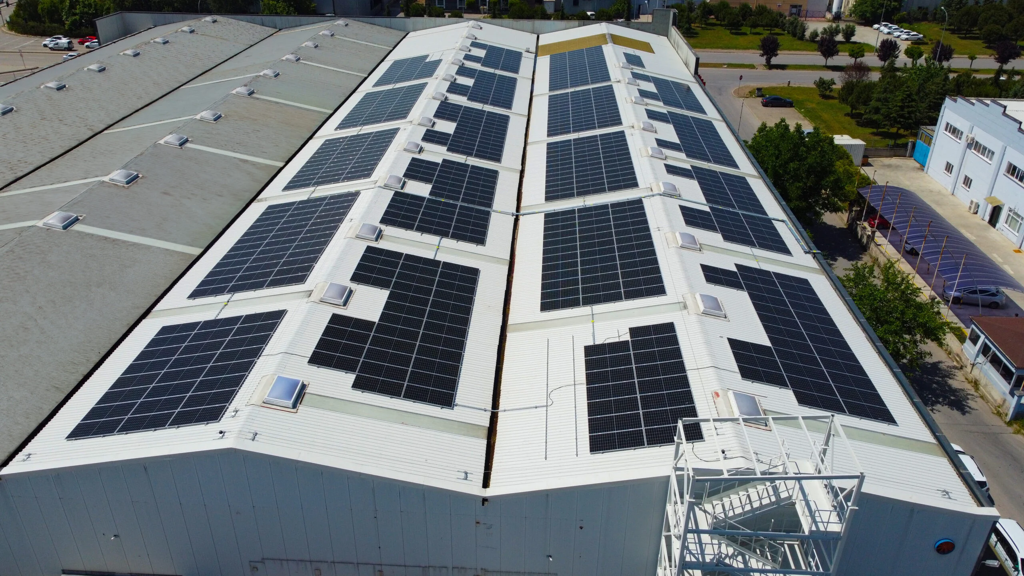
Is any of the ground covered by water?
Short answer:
No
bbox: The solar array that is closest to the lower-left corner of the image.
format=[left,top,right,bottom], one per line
[65,310,286,442]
